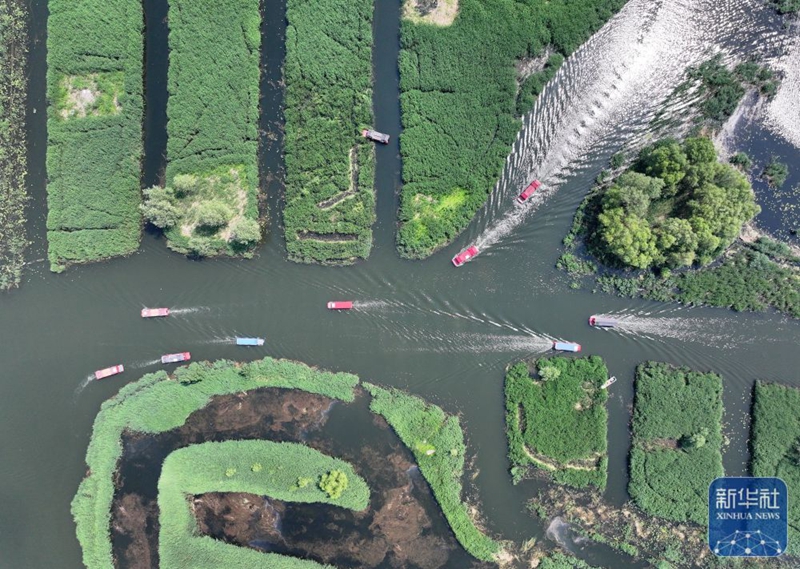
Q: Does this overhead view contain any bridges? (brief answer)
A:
No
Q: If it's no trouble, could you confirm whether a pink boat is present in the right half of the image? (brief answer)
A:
Yes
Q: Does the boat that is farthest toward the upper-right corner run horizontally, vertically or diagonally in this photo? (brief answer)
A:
diagonally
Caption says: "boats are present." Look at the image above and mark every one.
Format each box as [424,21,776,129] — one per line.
[552,340,581,352]
[588,317,618,327]
[602,376,616,388]
[362,128,391,143]
[327,301,355,310]
[517,177,544,204]
[236,337,264,345]
[142,308,170,317]
[95,363,125,379]
[452,245,479,266]
[161,351,191,363]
